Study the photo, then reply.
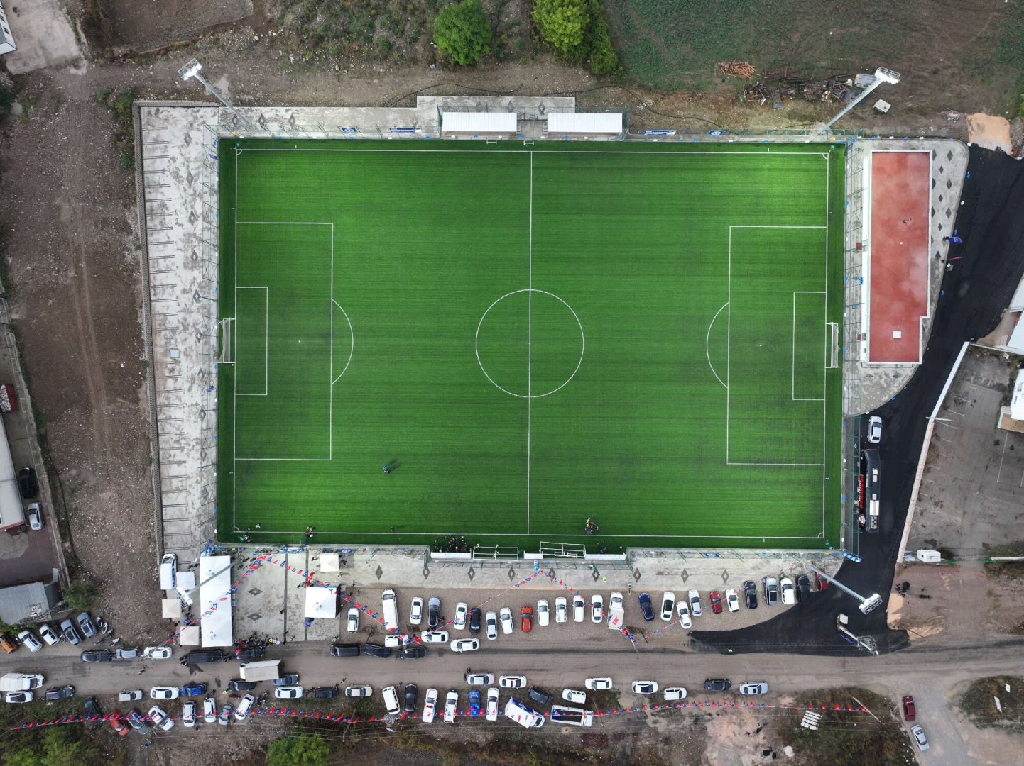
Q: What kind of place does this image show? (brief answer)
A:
sports ground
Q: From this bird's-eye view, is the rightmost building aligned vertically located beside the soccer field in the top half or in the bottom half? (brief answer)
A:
top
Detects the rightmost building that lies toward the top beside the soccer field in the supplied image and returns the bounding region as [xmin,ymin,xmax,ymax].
[857,150,932,365]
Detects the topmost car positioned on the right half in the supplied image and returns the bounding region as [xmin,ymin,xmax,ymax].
[867,416,882,443]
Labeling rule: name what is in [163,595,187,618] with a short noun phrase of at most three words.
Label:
tent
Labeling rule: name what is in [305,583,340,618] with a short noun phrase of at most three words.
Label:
tent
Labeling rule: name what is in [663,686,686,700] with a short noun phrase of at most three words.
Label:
car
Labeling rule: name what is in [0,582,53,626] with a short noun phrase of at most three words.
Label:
building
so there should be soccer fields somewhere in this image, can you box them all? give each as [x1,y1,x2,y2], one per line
[215,138,847,561]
